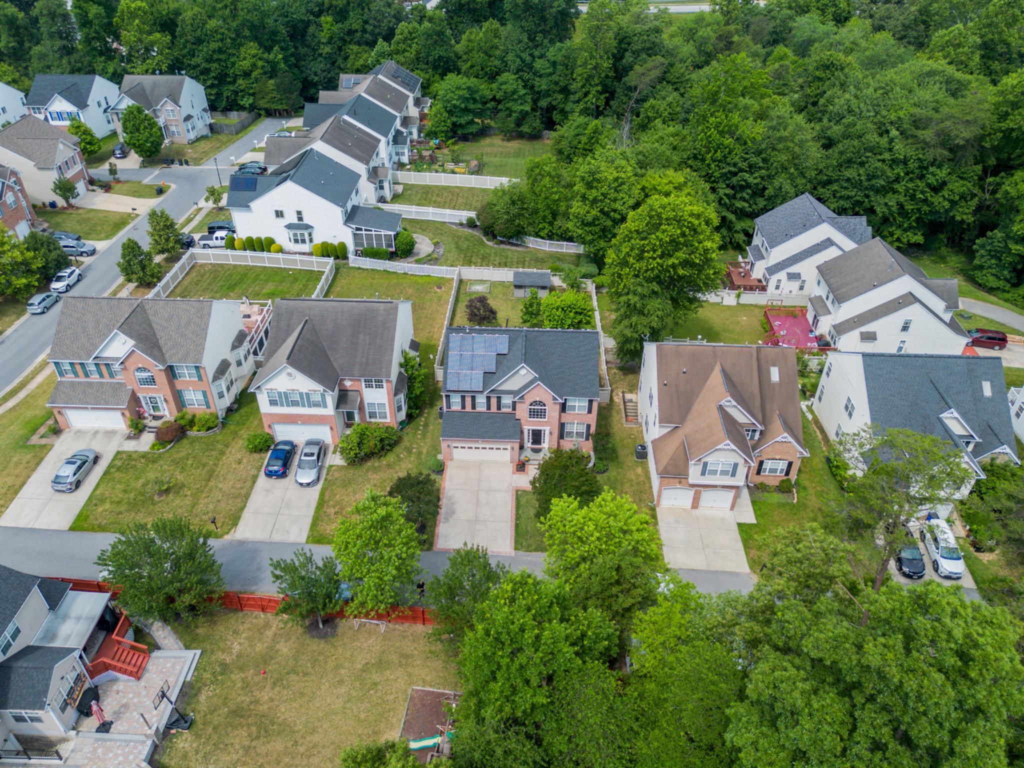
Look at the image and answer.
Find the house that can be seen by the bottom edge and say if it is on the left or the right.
left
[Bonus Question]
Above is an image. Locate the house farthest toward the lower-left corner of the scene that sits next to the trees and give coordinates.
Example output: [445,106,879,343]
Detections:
[0,563,152,760]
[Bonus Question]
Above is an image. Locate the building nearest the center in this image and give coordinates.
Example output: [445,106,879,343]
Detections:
[438,305,600,472]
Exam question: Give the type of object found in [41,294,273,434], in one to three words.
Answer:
house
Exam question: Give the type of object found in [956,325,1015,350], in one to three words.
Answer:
car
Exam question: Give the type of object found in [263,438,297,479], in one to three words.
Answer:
car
